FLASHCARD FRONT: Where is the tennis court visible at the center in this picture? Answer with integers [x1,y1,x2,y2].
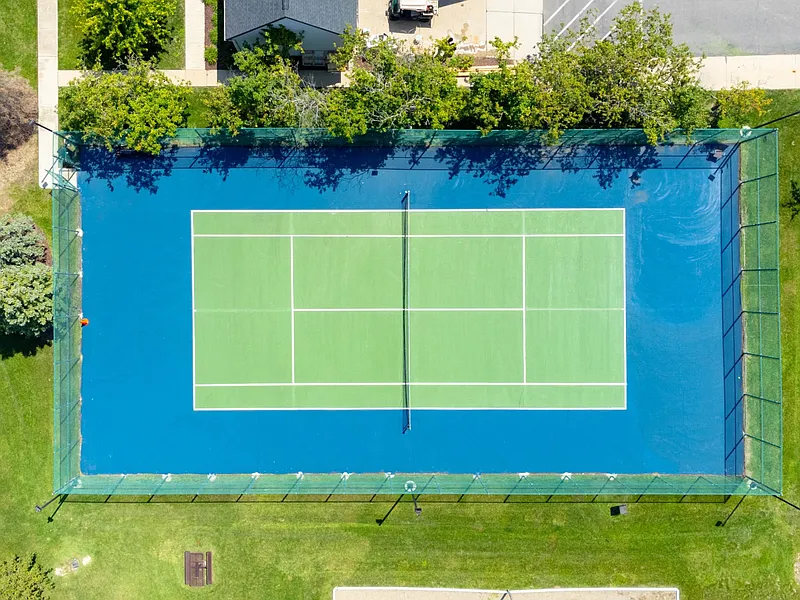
[77,143,749,477]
